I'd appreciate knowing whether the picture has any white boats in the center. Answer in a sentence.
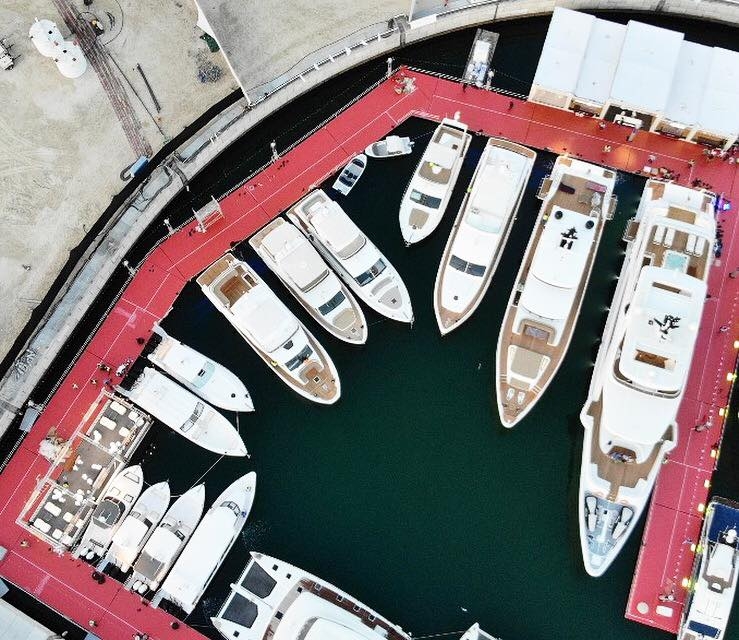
Yes, in the center there is a white boat.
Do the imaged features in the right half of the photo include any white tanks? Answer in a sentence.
No, I can find no white tank in the right half of the photo.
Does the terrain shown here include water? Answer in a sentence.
Yes, there's water in this view.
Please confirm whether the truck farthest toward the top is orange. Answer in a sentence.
No, the truck farthest toward the top is actually white.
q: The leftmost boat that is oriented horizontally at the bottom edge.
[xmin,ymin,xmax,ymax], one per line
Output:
[211,551,419,640]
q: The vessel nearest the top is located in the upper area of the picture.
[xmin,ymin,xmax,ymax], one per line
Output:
[461,33,499,86]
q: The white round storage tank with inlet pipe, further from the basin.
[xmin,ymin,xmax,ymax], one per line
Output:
[33,25,70,61]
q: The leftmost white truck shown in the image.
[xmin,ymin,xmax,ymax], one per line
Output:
[0,37,32,74]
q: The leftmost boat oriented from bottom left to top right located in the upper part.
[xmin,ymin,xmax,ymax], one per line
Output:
[333,154,367,198]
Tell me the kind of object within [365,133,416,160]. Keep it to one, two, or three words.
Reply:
boat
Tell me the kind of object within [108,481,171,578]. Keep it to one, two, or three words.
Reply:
boat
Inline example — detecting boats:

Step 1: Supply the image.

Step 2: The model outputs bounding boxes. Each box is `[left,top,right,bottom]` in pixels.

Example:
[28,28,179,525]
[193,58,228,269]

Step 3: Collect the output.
[135,482,206,592]
[500,157,617,427]
[577,179,716,577]
[683,490,739,640]
[211,551,419,640]
[149,337,254,411]
[437,138,535,334]
[162,473,255,615]
[196,254,336,404]
[365,133,416,160]
[79,465,142,565]
[250,219,367,345]
[287,189,413,322]
[108,481,171,578]
[401,114,471,246]
[129,370,249,458]
[333,154,367,198]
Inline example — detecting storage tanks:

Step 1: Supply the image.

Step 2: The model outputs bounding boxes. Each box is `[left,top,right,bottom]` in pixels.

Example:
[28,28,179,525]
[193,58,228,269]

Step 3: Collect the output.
[56,44,92,82]
[33,25,70,61]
